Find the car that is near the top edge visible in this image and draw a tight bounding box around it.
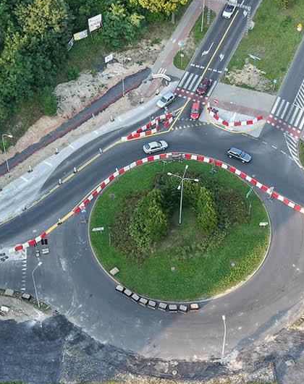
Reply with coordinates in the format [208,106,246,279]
[222,0,235,19]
